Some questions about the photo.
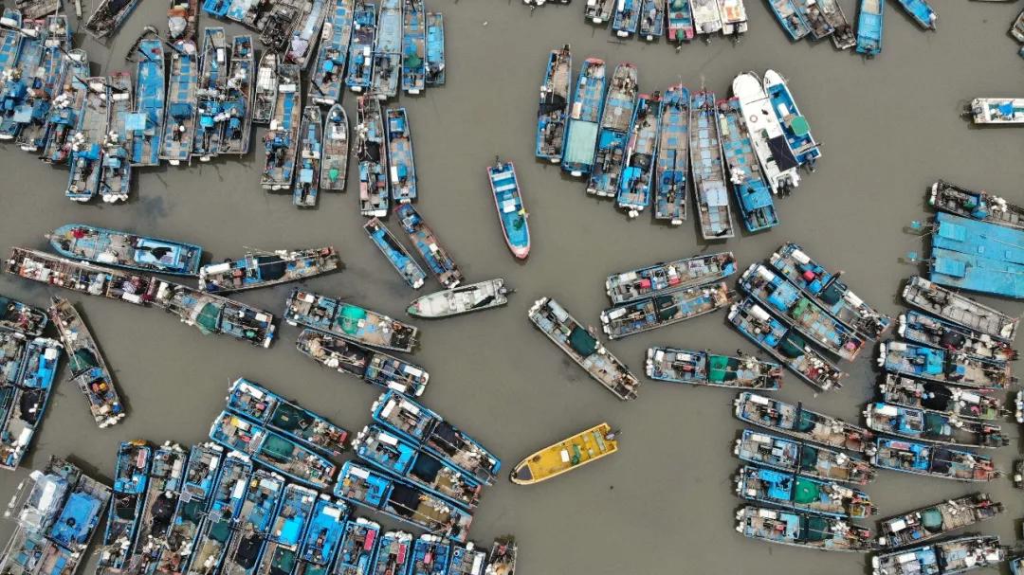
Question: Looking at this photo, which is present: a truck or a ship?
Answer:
ship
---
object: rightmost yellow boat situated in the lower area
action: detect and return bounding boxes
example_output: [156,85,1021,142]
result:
[508,423,623,483]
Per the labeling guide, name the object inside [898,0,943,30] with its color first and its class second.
blue boat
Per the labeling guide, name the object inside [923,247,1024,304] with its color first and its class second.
blue ship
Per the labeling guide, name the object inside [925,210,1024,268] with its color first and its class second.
blue ship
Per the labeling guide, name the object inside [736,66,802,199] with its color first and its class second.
white boat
